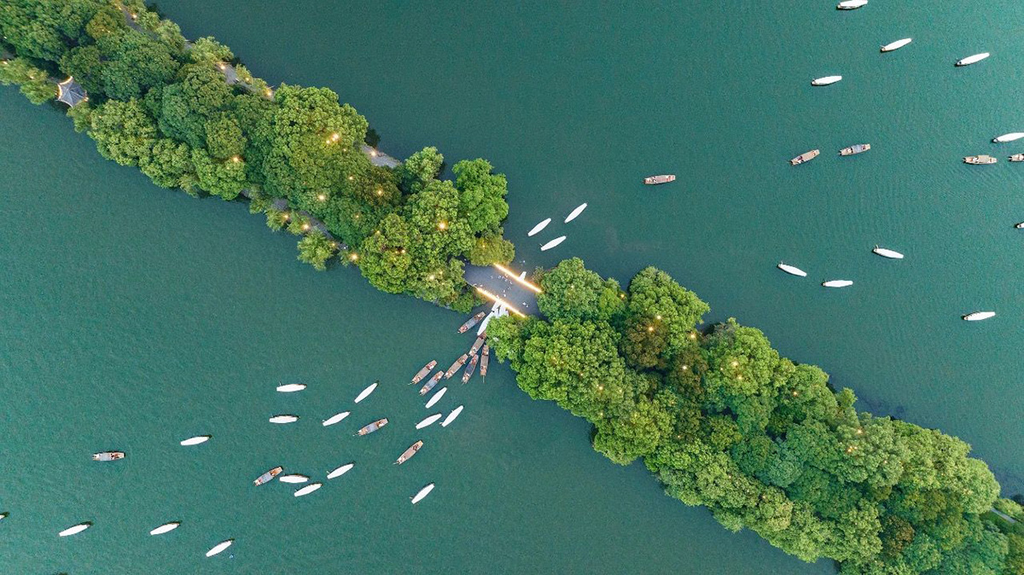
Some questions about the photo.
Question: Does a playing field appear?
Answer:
No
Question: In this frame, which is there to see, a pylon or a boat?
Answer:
boat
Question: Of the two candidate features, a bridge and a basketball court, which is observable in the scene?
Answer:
bridge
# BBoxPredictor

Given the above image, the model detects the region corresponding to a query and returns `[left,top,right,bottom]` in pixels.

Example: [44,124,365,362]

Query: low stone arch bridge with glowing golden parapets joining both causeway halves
[464,258,548,322]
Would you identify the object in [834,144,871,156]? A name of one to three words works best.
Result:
boat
